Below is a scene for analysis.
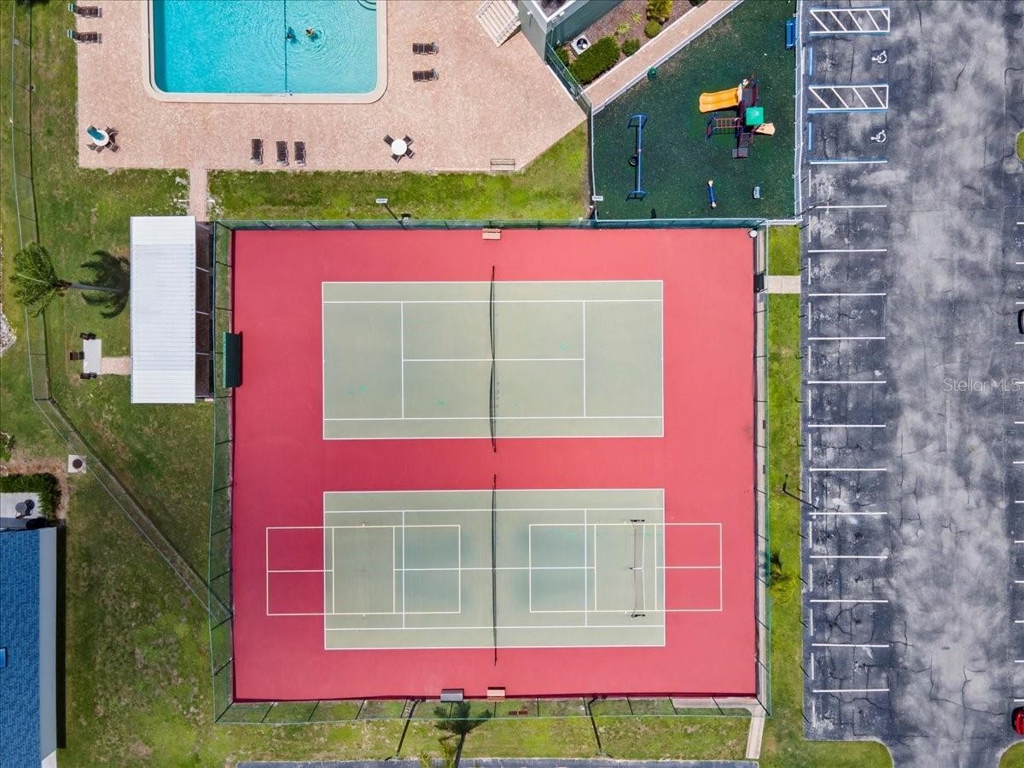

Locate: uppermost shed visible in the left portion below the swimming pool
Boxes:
[131,215,209,404]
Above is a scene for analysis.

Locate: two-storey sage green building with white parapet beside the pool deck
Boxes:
[504,0,627,65]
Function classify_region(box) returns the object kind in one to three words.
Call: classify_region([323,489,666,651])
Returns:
tennis court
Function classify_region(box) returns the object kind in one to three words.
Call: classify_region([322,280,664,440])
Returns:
tennis court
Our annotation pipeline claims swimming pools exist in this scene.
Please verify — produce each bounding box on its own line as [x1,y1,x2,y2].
[144,0,386,103]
